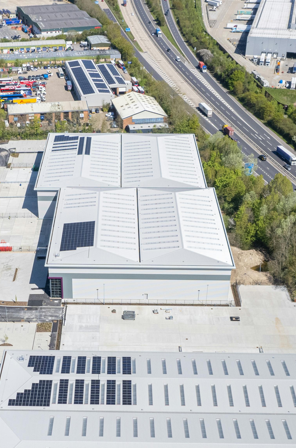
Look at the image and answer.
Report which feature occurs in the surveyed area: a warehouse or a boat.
warehouse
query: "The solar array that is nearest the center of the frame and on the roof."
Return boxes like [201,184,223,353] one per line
[60,220,95,252]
